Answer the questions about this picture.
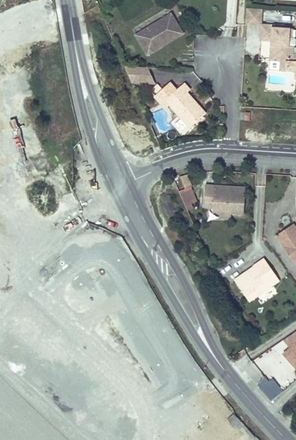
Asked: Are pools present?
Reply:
Yes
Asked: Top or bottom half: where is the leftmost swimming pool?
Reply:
top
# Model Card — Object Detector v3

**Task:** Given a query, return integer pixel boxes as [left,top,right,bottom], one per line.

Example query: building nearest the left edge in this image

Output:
[125,67,156,84]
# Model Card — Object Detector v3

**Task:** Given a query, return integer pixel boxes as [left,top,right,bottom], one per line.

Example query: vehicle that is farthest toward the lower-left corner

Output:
[66,217,88,232]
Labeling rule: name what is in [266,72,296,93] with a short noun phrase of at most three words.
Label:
swimming pool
